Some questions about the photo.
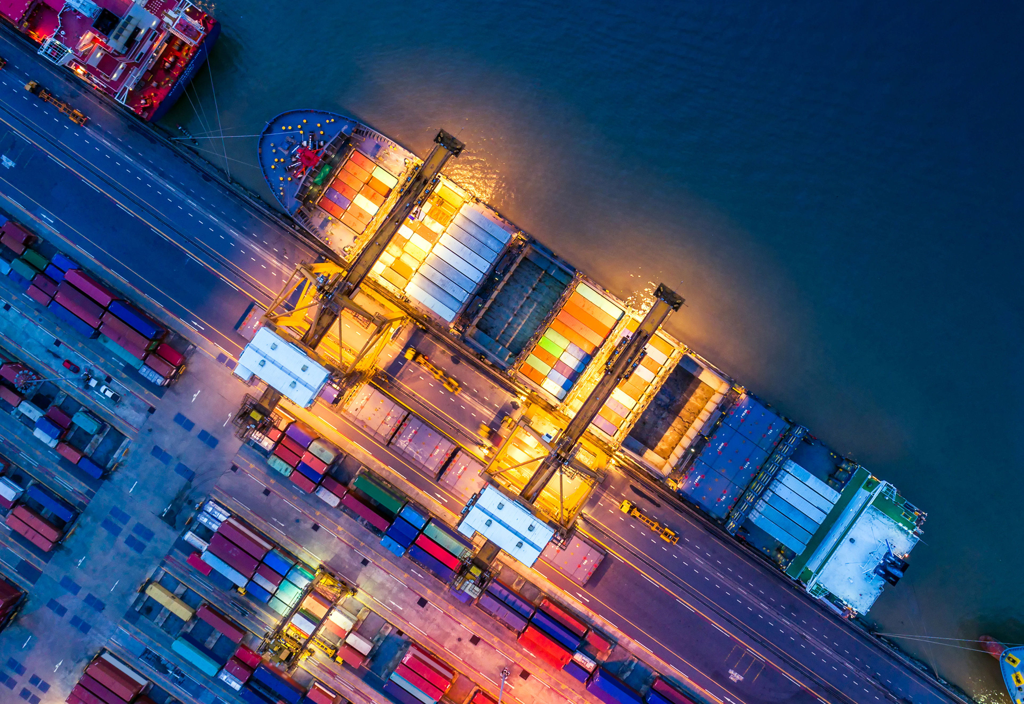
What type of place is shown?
port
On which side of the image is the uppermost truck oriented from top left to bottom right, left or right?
left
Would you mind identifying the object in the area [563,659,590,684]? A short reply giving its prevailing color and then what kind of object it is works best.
purple shipping container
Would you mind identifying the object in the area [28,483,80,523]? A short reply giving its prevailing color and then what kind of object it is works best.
blue shipping container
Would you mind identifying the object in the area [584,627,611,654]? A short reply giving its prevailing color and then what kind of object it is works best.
red shipping container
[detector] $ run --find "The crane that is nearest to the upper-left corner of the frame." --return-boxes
[224,123,472,448]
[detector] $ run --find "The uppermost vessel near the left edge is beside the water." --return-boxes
[0,0,222,120]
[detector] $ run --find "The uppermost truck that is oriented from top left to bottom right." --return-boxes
[20,82,86,131]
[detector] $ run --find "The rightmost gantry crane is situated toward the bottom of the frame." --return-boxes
[445,280,693,604]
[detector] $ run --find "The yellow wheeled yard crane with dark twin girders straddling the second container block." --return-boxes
[241,566,357,687]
